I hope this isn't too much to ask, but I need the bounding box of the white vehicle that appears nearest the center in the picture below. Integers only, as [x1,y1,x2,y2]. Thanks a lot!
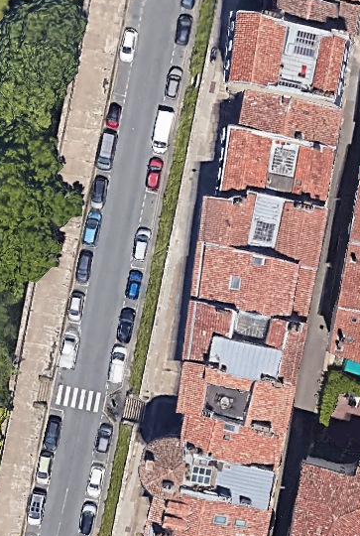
[130,224,154,263]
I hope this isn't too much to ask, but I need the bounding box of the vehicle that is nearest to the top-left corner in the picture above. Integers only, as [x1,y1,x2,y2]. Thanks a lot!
[118,25,141,64]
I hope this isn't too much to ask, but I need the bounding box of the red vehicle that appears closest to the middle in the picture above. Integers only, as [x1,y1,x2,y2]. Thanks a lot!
[145,154,166,193]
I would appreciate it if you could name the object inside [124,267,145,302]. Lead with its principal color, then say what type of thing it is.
blue car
